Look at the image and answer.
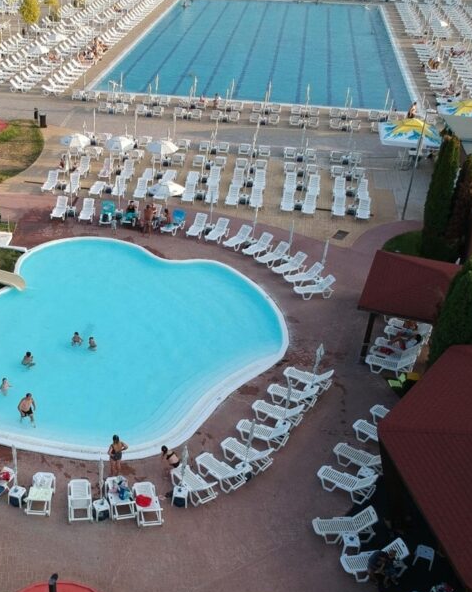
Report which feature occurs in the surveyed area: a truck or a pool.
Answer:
pool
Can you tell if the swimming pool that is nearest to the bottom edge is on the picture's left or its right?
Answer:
left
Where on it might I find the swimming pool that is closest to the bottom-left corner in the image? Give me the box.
[0,240,284,442]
